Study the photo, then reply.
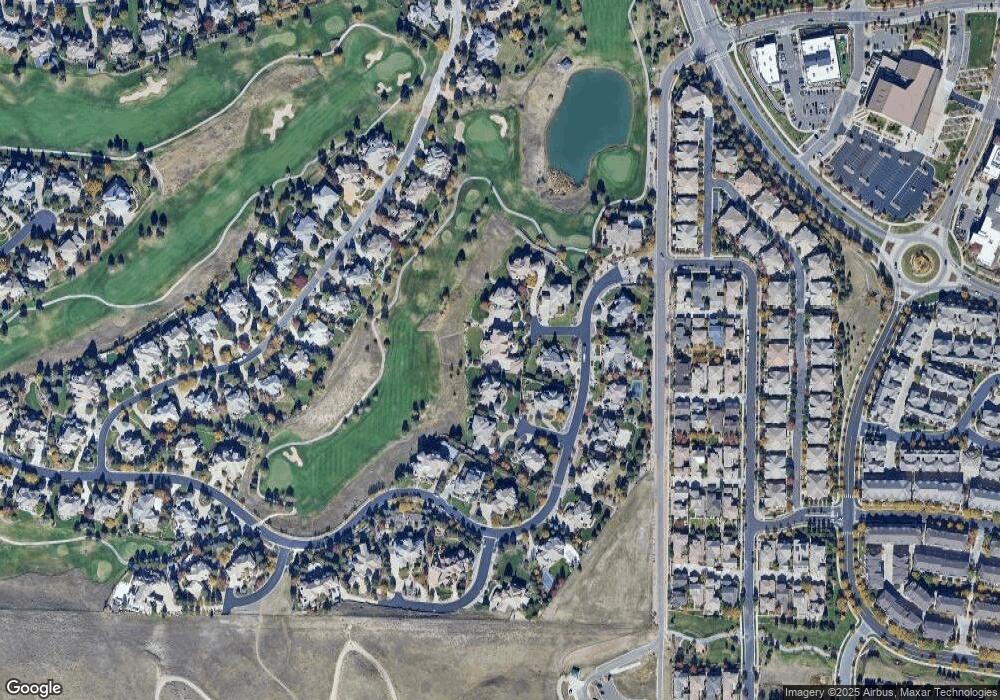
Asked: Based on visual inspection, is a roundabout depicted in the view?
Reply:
Yes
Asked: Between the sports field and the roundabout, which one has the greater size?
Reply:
the roundabout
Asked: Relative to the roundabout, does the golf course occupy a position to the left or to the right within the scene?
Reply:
on the left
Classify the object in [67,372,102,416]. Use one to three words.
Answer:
house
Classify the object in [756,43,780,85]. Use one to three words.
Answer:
building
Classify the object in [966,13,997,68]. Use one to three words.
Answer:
sports field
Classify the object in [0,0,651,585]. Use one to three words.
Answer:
golf course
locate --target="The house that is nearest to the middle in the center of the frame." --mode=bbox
[479,331,522,374]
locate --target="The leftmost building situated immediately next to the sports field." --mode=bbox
[868,56,943,135]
